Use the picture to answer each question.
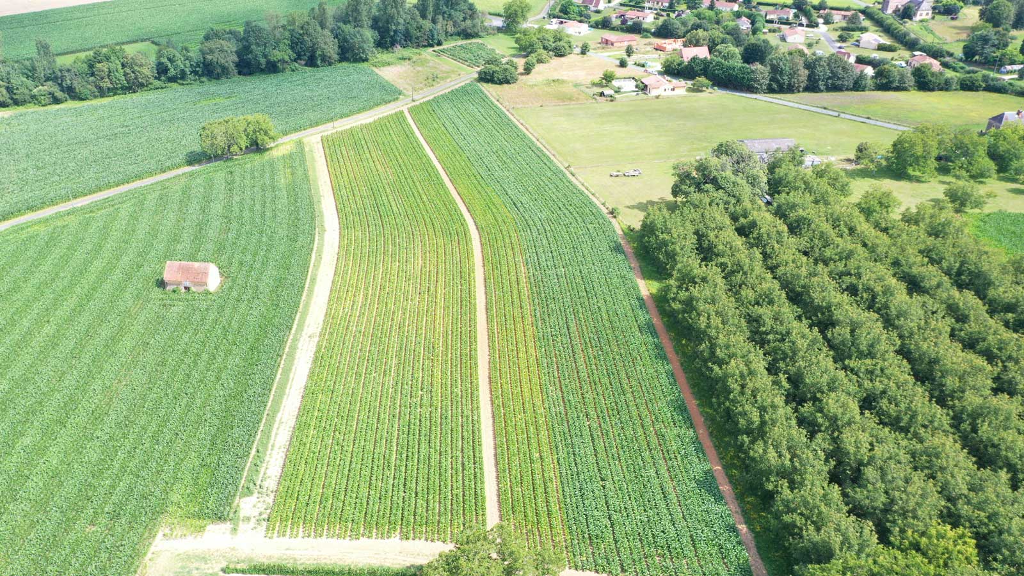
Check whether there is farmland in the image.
Yes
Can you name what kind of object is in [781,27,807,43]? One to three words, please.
house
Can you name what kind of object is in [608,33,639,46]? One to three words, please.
house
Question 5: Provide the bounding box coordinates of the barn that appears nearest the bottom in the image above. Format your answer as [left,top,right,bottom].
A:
[161,261,222,292]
